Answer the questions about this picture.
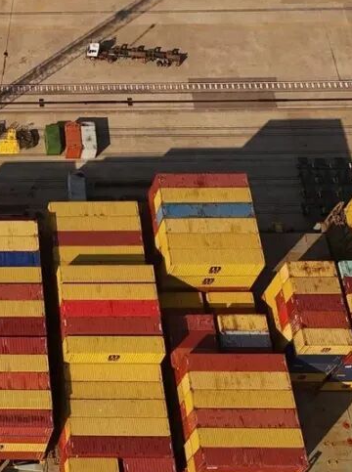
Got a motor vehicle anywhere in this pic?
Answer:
Yes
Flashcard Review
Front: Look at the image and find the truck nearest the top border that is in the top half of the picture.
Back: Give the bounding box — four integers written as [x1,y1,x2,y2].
[85,40,174,69]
